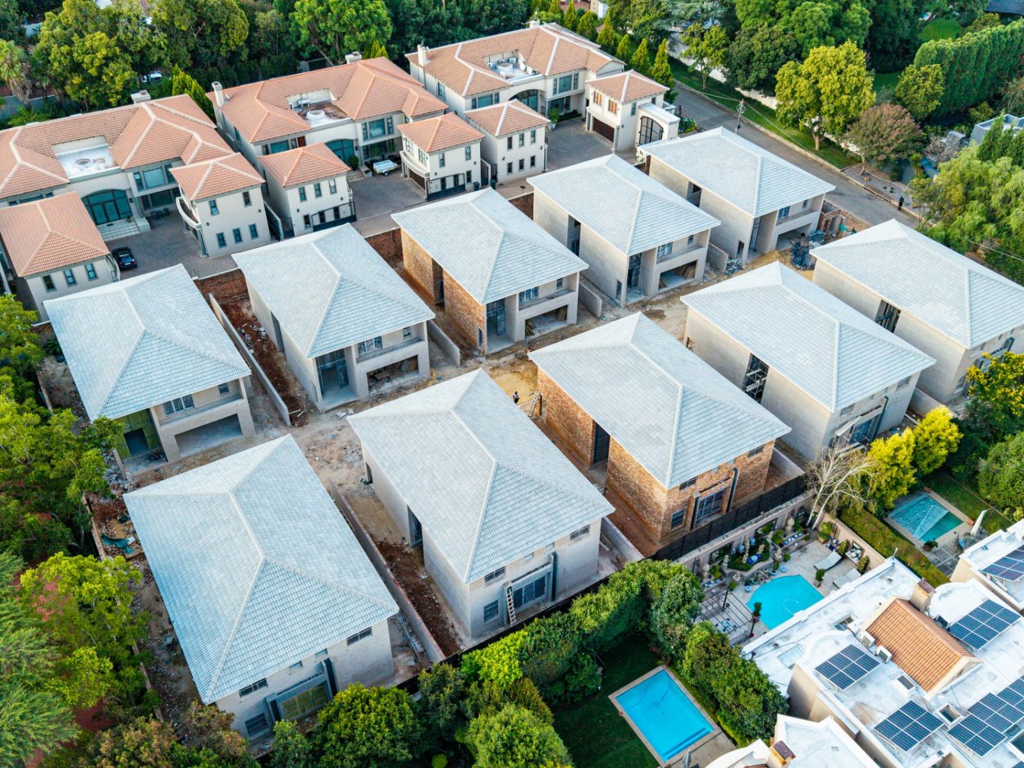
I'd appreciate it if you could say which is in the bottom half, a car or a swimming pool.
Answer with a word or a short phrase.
swimming pool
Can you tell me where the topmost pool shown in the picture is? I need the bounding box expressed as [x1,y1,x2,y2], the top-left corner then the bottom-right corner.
[884,486,974,550]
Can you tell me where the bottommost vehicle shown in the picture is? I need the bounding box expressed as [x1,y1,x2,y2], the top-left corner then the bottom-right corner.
[110,242,139,268]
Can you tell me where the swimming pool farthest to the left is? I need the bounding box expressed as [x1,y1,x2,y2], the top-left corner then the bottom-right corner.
[607,662,723,768]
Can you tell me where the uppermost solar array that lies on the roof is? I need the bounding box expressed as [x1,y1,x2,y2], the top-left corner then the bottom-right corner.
[981,548,1024,589]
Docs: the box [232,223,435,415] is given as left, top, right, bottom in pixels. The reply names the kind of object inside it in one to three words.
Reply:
house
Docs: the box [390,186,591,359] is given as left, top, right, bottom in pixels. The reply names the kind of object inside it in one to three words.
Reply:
house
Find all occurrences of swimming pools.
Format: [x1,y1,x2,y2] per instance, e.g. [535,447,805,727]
[607,662,723,768]
[746,570,829,634]
[884,486,974,550]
